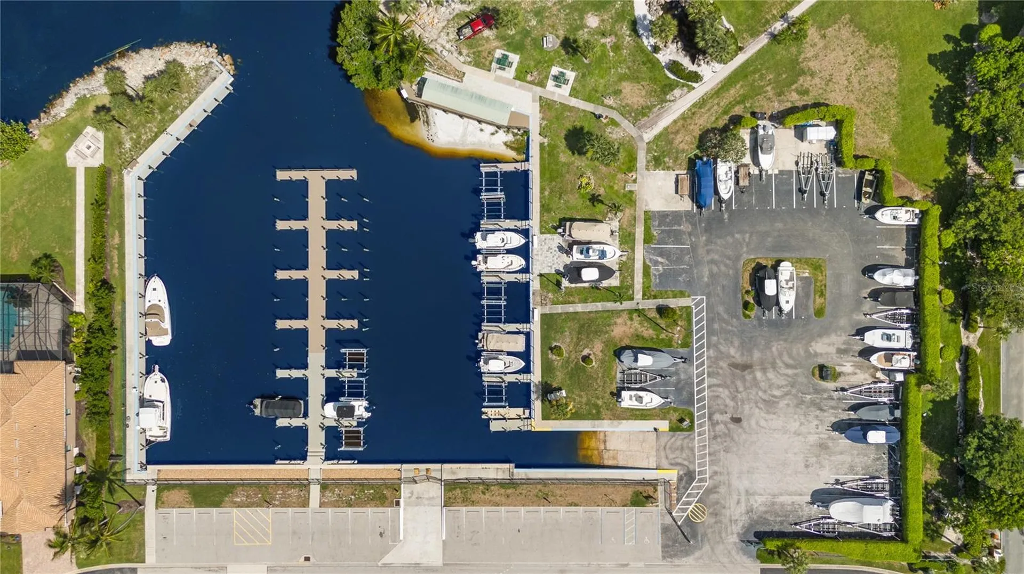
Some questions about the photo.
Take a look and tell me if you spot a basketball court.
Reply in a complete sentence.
No, there appears to be no basketball court in this shot.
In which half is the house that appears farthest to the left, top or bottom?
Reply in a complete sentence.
Seen from above, the house that appears farthest to the left lies in the bottom half of the view.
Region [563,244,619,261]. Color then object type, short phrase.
white boat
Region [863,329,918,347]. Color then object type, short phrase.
white boat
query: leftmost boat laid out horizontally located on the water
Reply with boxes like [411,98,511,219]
[247,395,305,416]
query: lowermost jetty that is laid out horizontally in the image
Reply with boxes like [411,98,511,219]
[490,418,530,433]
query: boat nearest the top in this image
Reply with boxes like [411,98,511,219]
[755,113,773,170]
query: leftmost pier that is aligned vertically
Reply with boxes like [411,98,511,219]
[125,85,235,472]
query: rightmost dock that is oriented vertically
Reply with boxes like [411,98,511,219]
[273,167,359,464]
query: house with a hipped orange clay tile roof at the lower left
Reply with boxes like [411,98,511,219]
[0,360,74,538]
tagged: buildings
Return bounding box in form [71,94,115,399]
[0,360,74,538]
[421,78,512,129]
